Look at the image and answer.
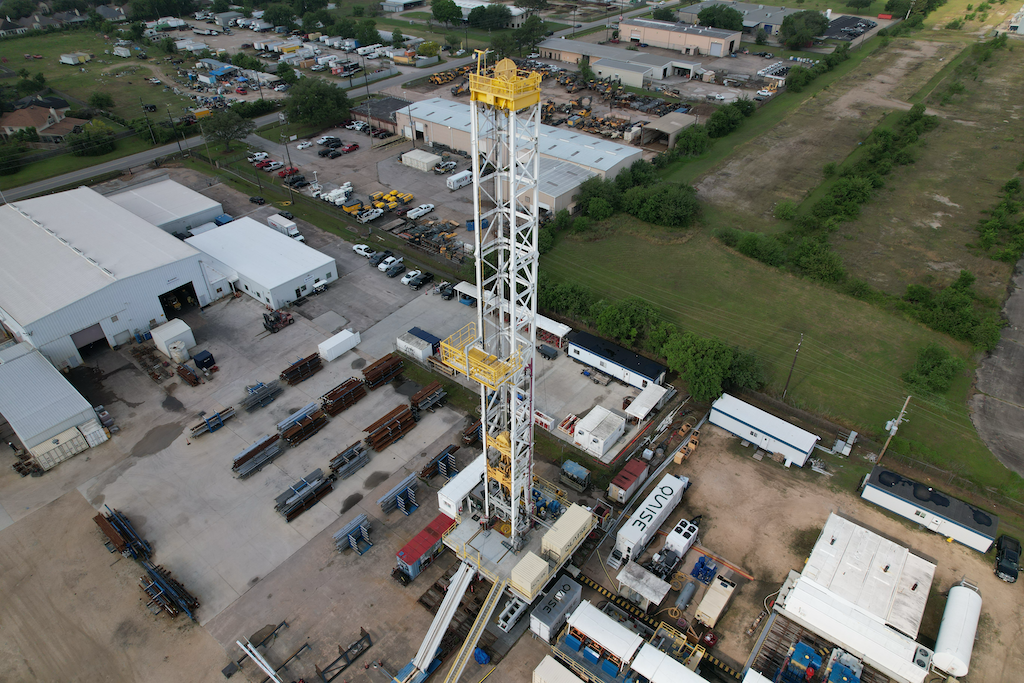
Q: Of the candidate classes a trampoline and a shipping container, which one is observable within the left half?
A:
shipping container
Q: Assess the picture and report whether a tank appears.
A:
Yes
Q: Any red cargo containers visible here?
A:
Yes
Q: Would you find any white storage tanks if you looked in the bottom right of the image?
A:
Yes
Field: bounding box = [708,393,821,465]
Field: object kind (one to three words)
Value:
building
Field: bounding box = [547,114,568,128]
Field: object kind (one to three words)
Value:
work vehicle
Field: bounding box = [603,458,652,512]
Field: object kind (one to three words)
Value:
shipping container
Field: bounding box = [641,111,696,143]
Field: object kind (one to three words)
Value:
shed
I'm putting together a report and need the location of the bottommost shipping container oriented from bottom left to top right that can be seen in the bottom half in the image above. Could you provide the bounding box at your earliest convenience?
[531,575,583,640]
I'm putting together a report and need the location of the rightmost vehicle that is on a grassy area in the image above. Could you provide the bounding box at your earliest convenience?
[991,535,1024,578]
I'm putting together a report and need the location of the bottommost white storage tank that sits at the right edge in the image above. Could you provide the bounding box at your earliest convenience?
[929,577,984,675]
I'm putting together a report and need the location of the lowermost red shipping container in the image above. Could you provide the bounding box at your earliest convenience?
[397,512,462,580]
